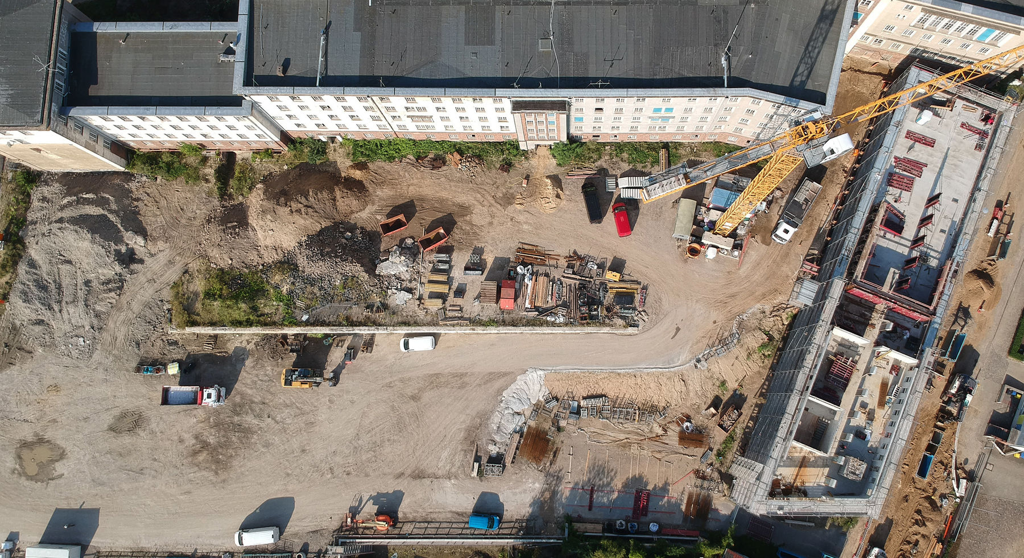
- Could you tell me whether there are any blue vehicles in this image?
Yes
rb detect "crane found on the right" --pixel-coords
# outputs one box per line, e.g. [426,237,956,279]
[648,44,1024,247]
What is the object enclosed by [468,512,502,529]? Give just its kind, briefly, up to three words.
vehicle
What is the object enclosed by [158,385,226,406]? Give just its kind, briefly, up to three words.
truck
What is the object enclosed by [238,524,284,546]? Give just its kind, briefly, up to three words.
vehicle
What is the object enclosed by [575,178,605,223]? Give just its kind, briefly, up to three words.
truck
